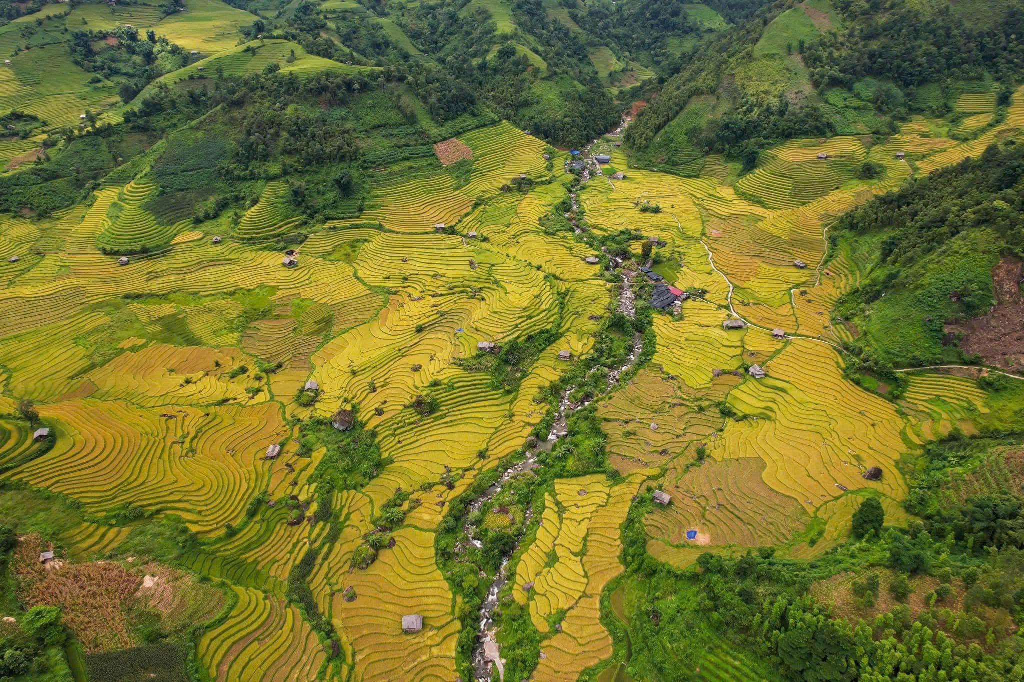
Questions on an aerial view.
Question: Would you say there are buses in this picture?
No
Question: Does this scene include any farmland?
Yes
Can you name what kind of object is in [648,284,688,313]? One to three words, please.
house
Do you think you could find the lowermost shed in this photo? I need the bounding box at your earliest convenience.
[400,611,423,634]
